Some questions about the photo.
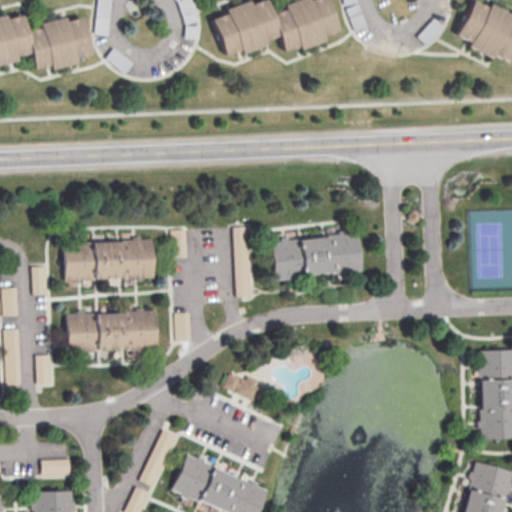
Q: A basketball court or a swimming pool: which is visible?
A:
swimming pool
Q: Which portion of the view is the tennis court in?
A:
right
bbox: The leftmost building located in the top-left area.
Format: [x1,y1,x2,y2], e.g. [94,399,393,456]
[0,13,94,74]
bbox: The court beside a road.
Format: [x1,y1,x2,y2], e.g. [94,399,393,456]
[468,210,512,290]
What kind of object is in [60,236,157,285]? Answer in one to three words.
building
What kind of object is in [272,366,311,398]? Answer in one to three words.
swimming pool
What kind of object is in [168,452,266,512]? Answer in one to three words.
building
